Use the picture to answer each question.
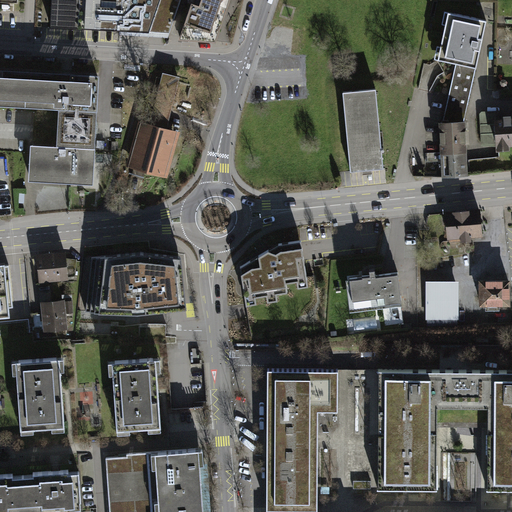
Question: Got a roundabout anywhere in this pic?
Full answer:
Yes, the frame does contain a roundabout.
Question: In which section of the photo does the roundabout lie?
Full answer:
The roundabout appears toward the center of the photo.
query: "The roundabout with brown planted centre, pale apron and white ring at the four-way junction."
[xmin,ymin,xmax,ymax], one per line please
[164,172,262,266]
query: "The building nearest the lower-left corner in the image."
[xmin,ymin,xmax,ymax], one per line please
[0,466,82,512]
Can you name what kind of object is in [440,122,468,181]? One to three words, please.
house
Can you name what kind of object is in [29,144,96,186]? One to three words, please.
building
